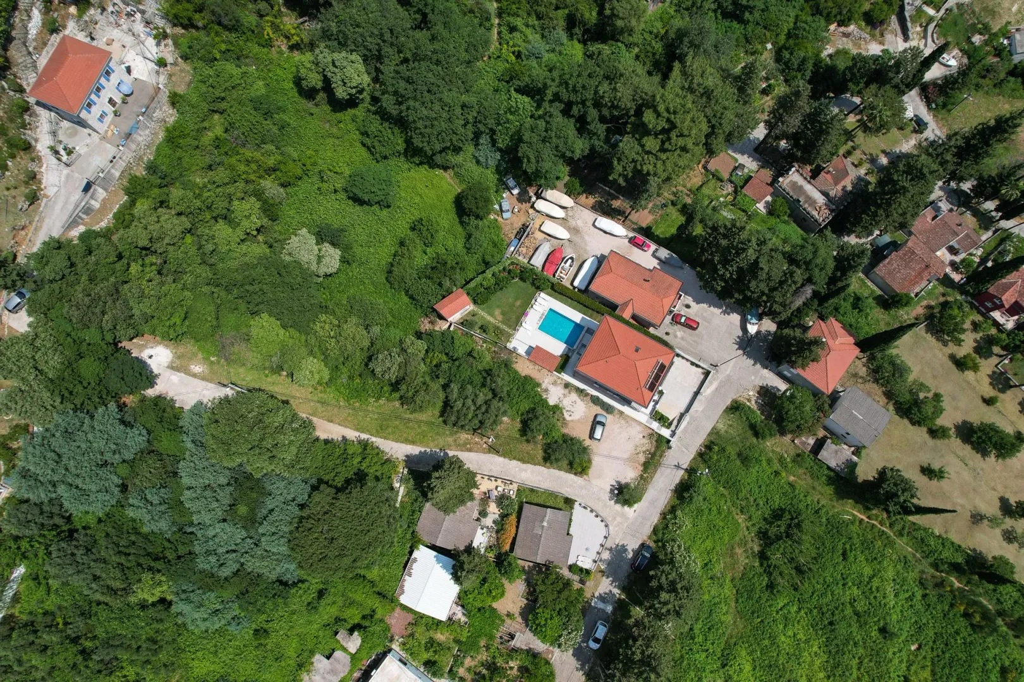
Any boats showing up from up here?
Yes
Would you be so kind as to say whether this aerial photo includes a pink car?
Yes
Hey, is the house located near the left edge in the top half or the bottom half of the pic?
top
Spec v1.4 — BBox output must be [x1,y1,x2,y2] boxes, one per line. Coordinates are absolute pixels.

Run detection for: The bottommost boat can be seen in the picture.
[744,308,760,333]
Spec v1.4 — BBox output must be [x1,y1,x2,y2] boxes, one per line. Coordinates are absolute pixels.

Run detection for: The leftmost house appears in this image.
[27,34,131,131]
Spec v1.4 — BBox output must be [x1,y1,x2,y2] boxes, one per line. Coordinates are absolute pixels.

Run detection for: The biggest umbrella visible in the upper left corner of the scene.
[120,83,136,98]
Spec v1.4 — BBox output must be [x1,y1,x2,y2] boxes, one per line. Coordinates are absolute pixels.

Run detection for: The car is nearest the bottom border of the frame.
[586,621,608,649]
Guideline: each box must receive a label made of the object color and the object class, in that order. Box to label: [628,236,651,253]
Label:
pink car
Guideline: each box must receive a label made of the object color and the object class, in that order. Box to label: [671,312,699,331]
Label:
red car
